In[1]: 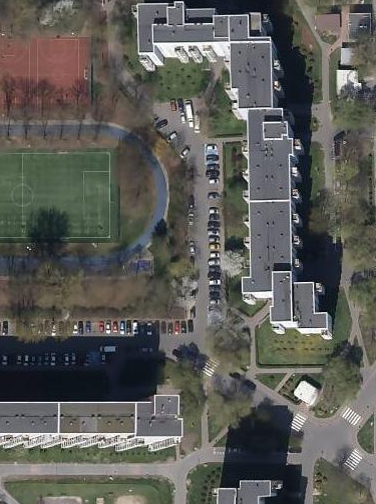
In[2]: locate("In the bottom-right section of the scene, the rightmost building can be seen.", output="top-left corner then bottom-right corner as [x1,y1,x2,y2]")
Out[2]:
[293,380,318,407]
